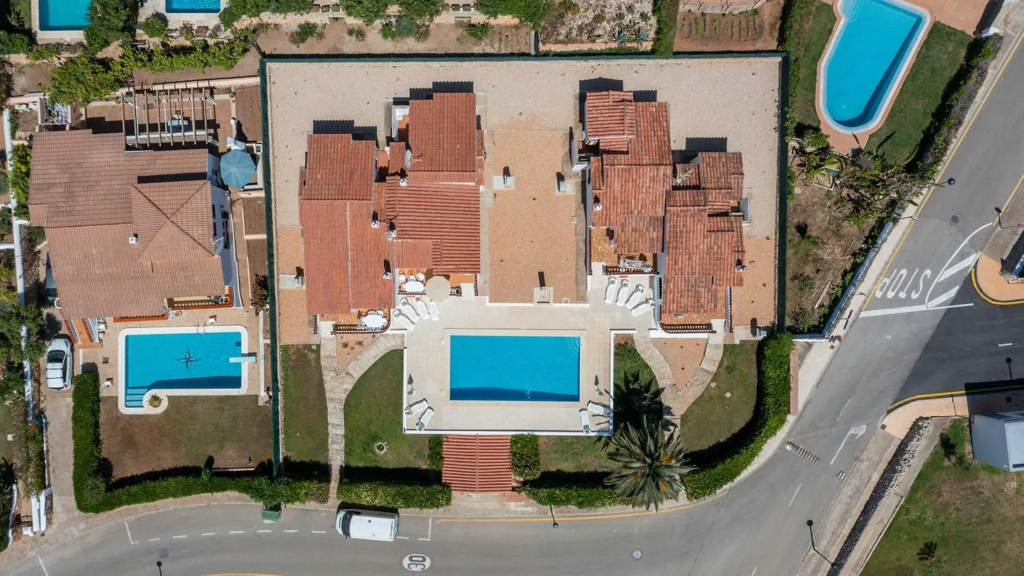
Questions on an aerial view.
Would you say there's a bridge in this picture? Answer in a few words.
No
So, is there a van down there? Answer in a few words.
Yes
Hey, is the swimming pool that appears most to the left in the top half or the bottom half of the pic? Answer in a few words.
top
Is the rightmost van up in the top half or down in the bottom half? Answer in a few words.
bottom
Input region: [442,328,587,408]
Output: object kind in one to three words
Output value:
swimming pool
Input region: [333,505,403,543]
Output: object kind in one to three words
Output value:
van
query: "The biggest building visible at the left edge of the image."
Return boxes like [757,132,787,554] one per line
[27,129,239,348]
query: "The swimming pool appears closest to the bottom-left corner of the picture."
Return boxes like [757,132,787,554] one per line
[119,326,248,414]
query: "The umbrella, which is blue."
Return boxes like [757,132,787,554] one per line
[222,150,259,187]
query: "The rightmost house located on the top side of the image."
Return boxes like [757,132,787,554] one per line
[570,91,751,343]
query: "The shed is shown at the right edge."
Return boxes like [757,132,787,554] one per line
[974,410,1024,472]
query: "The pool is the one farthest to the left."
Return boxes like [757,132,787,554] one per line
[37,0,93,33]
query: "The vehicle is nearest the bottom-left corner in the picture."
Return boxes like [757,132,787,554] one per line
[44,335,78,391]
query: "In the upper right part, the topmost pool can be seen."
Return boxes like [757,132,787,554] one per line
[817,0,936,136]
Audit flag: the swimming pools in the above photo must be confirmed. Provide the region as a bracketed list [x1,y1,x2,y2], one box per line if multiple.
[119,326,248,414]
[442,328,587,408]
[37,0,93,33]
[164,0,222,15]
[817,0,936,136]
